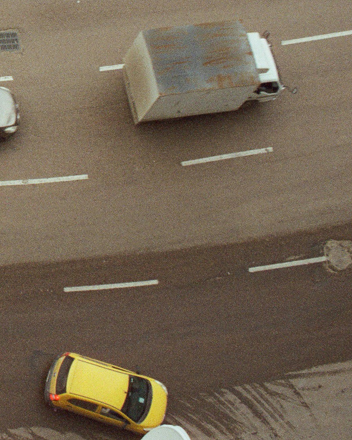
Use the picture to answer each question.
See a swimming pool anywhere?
No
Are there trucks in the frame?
Yes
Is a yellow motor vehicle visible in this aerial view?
Yes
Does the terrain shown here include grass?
No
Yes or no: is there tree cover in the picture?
No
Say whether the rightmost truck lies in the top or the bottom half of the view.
top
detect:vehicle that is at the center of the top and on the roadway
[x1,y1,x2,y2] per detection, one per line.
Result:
[126,22,292,123]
